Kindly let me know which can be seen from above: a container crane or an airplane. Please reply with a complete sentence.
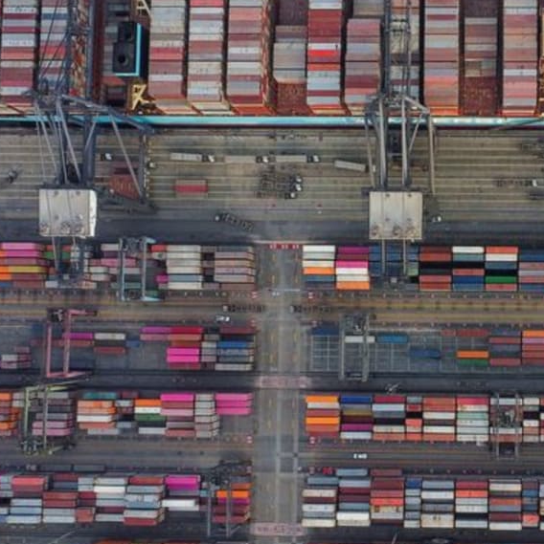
Looking from above, you can make out a container crane.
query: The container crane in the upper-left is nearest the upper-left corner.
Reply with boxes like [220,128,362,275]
[33,0,157,279]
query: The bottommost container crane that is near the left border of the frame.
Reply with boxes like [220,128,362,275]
[22,382,77,454]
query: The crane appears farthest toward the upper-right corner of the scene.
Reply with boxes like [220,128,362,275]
[359,0,443,283]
